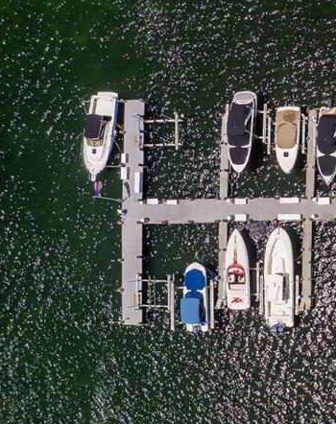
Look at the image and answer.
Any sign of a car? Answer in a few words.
No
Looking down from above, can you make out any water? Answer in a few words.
Yes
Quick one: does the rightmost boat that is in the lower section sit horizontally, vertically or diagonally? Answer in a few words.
vertically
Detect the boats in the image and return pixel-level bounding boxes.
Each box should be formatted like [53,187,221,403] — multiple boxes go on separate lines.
[226,231,253,309]
[264,229,297,336]
[83,90,124,181]
[179,263,210,335]
[316,101,336,184]
[226,91,256,173]
[275,108,301,174]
